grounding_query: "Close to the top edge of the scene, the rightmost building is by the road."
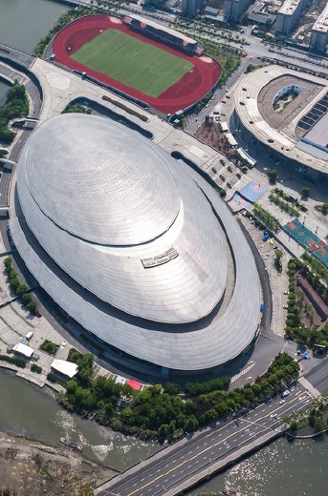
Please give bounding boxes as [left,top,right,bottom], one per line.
[308,1,328,50]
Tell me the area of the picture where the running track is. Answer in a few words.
top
